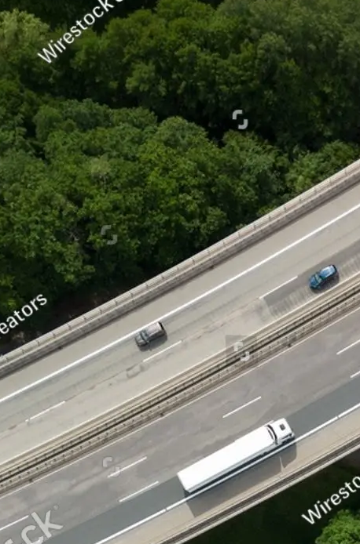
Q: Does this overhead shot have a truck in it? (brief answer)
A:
Yes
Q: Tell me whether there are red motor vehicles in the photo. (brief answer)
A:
No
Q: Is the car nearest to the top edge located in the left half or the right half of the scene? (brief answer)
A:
right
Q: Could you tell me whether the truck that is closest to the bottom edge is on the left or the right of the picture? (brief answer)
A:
right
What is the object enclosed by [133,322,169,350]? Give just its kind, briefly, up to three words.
car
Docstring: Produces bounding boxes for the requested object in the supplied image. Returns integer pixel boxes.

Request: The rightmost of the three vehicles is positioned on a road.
[307,265,339,290]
